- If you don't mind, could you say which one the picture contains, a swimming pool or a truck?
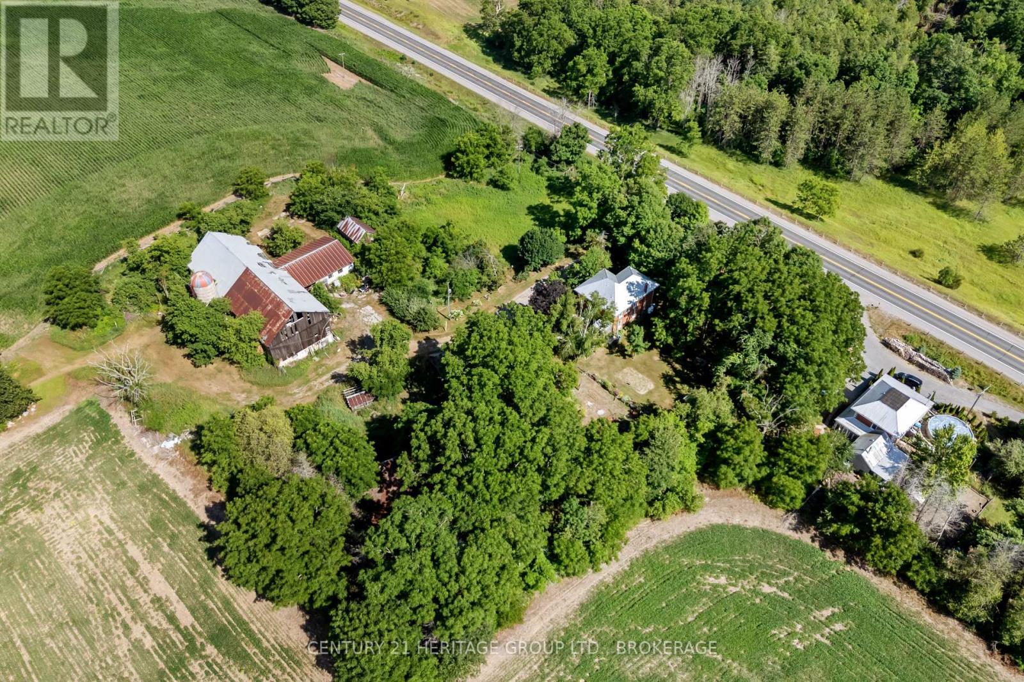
swimming pool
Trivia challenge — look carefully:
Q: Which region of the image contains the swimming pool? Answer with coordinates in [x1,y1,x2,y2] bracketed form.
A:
[923,414,976,453]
